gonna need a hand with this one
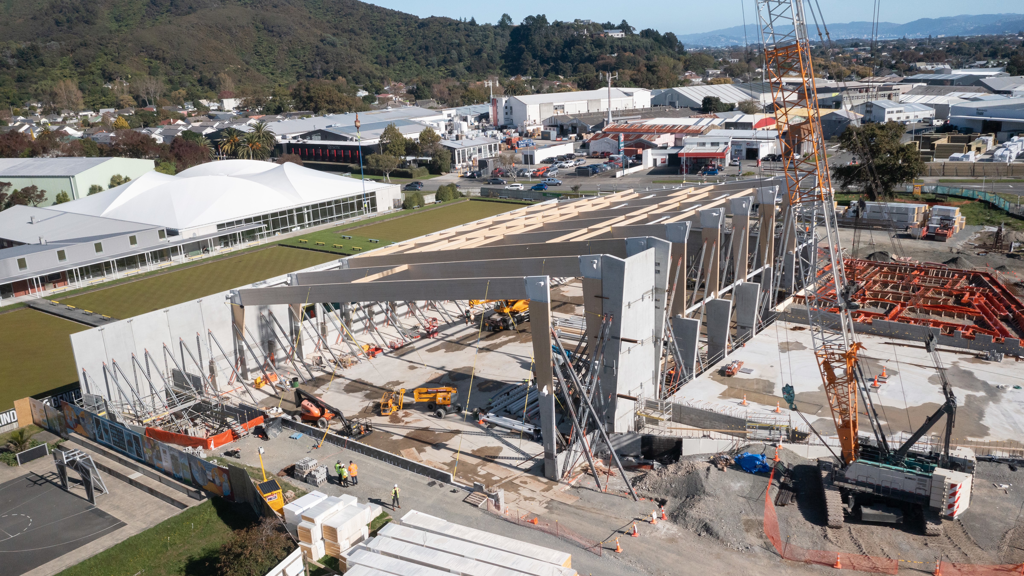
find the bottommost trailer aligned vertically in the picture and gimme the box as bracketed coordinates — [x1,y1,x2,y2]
[253,424,288,521]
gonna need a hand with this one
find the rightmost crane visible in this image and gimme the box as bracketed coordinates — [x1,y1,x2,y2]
[754,0,989,550]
